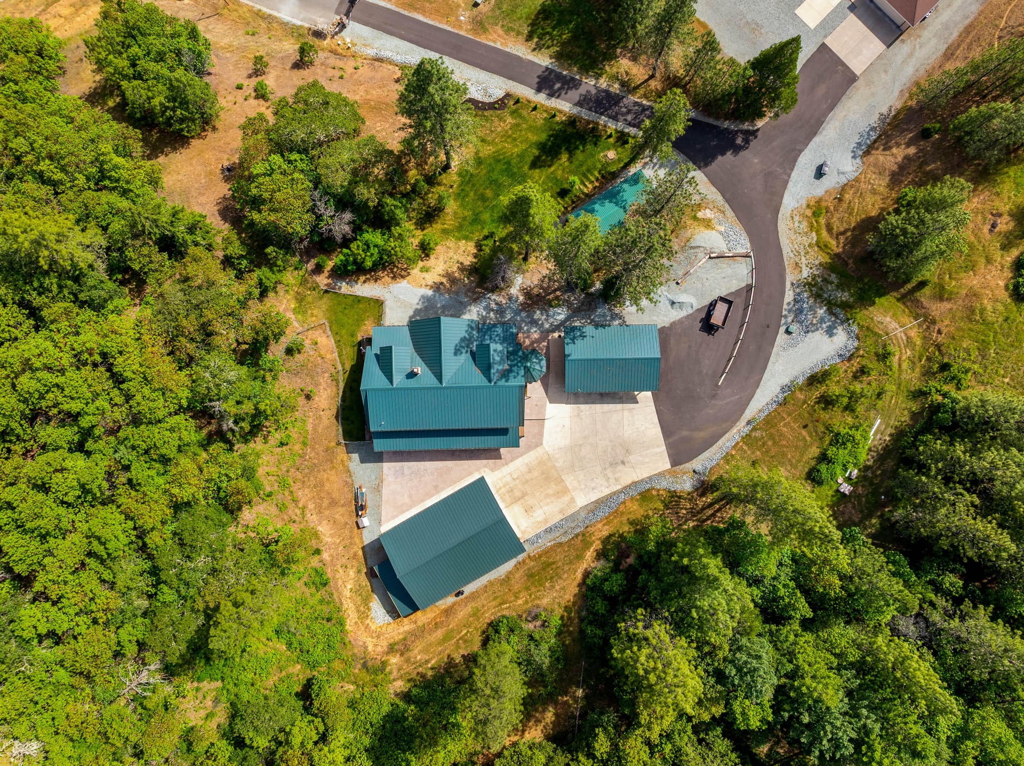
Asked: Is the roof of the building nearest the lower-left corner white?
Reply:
No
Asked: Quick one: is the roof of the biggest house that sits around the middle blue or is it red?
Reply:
blue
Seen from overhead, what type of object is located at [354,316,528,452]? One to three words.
house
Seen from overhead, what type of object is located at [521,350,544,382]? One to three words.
gazebo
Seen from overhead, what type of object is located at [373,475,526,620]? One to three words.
building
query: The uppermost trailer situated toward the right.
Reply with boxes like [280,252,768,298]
[709,294,738,339]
